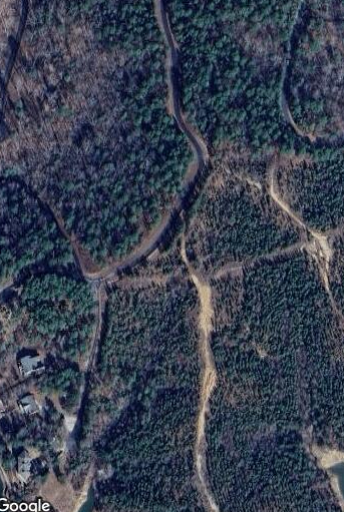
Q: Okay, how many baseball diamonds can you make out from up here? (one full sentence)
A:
The count of baseball diamonds is 0.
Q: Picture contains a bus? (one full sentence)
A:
No, there appears to be no bus in this shot.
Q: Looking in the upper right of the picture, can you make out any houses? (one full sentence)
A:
No, no house can be made out in the upper right of the picture.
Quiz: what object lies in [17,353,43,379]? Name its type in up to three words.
house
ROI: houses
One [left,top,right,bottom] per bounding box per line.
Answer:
[14,456,34,485]
[17,353,43,379]
[18,395,38,416]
